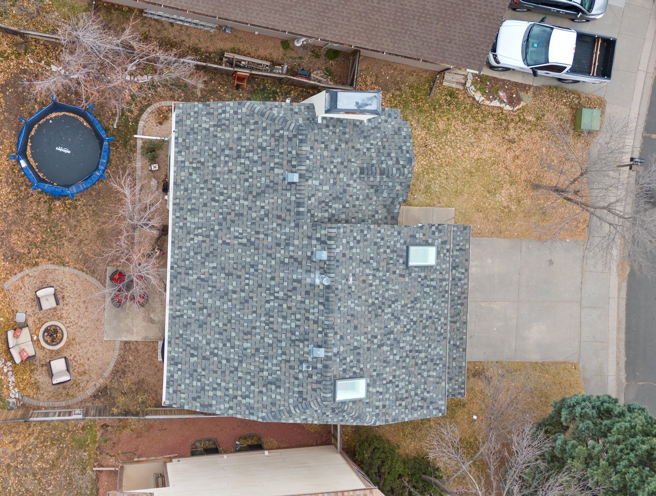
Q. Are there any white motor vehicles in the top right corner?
Yes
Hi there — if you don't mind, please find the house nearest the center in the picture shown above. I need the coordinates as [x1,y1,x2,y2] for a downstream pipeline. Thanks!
[159,89,473,431]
